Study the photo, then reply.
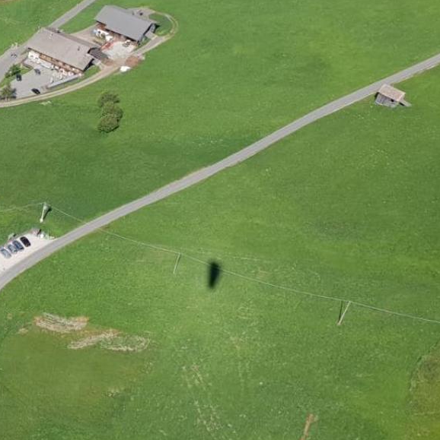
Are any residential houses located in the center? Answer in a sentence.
No, in the center there is no residential house.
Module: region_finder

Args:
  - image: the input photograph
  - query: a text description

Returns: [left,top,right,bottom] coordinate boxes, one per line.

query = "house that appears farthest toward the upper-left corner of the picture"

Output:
[23,29,101,71]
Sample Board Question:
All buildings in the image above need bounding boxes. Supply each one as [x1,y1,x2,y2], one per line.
[90,5,153,43]
[23,29,101,71]
[373,84,409,108]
